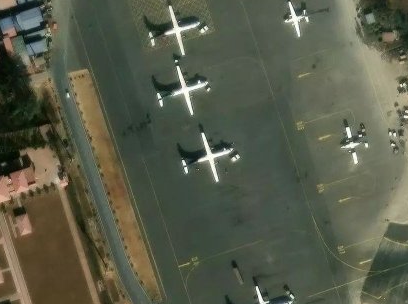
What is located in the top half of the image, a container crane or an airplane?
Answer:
airplane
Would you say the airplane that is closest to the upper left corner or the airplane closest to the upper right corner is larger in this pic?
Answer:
the airplane that is closest to the upper left corner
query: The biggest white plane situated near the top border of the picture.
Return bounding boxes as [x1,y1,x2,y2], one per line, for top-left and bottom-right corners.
[149,6,200,56]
